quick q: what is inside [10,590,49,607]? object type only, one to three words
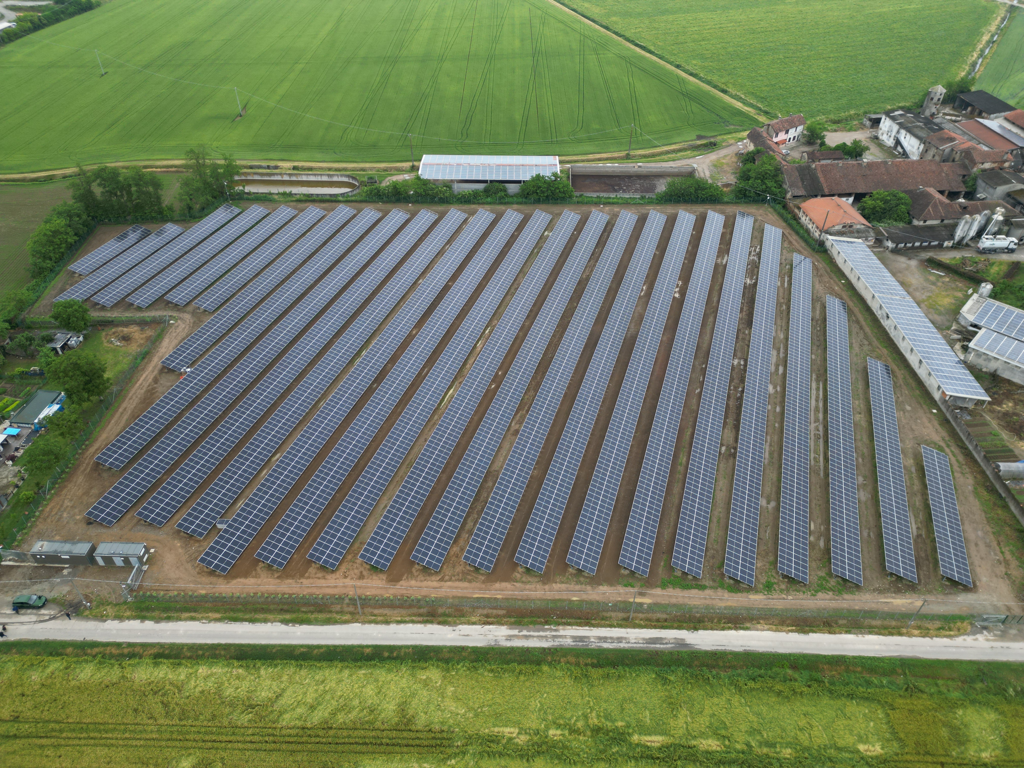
car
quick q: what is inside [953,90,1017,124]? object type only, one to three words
shed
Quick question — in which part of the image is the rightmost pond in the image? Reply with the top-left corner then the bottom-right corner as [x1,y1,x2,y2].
[196,171,361,198]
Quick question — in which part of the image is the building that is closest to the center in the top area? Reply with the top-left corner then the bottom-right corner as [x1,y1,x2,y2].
[415,155,561,194]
